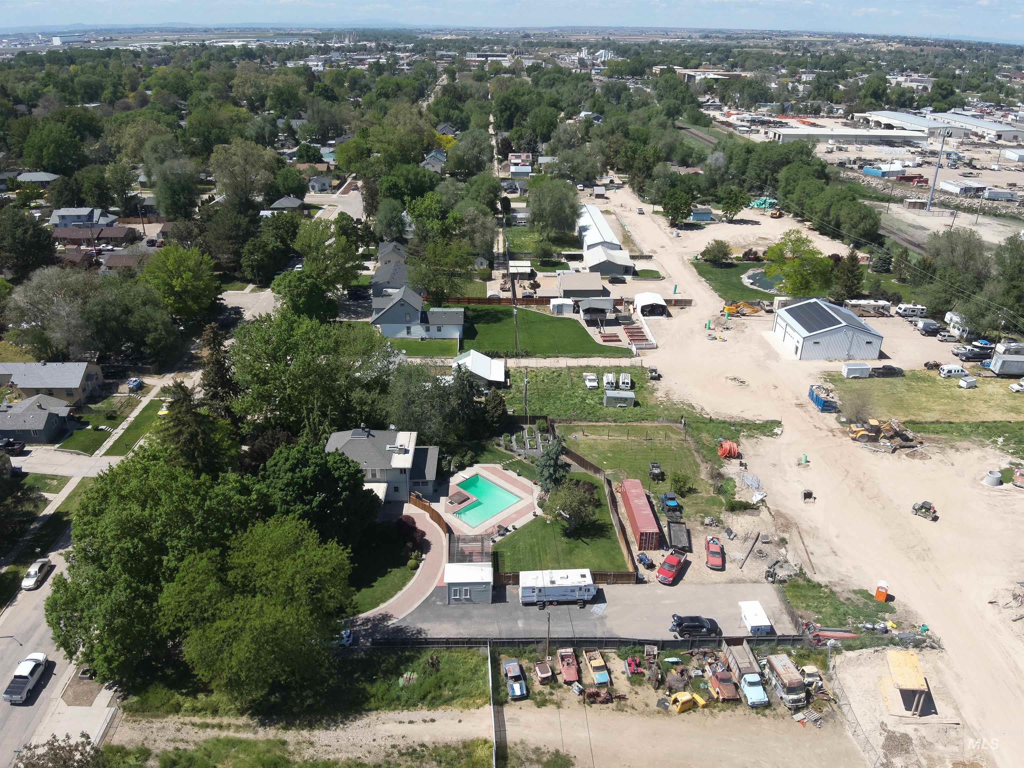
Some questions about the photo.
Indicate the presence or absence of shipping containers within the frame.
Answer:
Yes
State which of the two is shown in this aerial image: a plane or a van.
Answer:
van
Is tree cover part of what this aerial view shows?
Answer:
Yes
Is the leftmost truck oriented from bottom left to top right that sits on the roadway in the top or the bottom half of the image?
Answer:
bottom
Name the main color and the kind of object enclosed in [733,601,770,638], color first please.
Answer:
white trailer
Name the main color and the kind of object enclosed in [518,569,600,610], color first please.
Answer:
white trailer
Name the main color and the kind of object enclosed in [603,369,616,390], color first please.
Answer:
white vehicle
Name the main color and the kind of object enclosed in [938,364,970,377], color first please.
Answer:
white vehicle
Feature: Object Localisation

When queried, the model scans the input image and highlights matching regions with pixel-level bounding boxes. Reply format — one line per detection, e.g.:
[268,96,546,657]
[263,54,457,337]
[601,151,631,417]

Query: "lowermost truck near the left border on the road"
[1,653,51,705]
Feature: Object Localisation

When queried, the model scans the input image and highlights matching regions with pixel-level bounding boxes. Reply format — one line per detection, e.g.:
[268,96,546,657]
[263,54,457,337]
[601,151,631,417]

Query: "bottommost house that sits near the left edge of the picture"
[0,401,91,443]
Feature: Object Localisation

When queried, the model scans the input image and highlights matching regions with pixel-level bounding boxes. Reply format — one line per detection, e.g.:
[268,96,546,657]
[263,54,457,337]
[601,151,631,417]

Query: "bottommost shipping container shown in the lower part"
[620,479,659,547]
